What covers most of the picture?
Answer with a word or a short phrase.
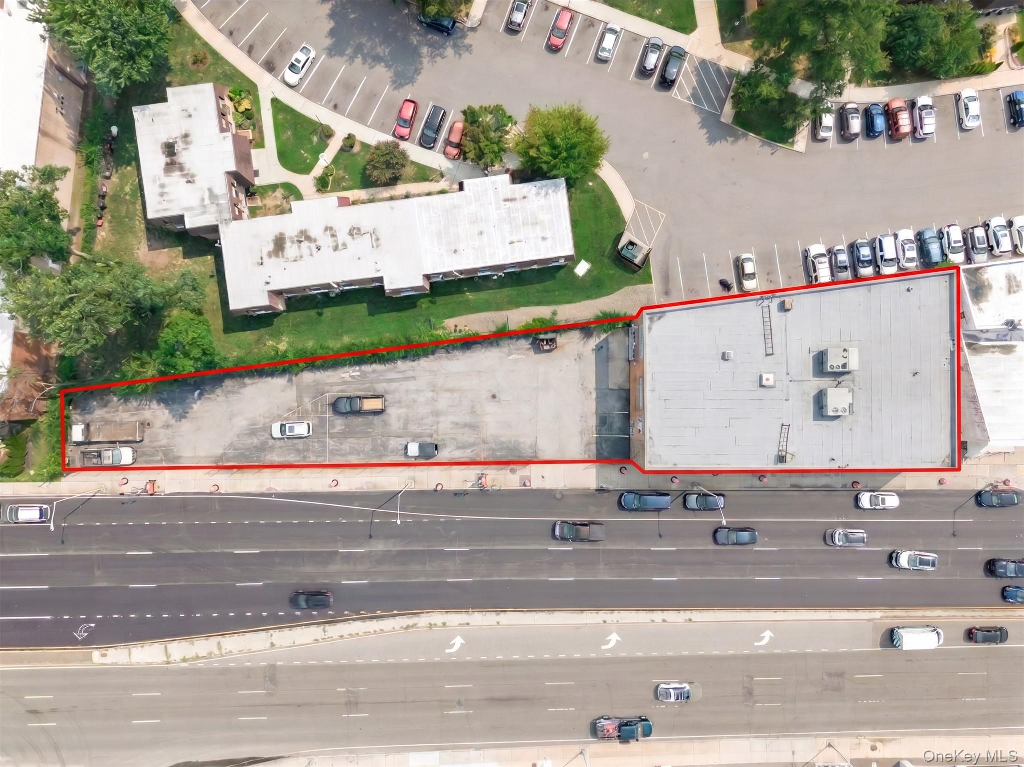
paved ground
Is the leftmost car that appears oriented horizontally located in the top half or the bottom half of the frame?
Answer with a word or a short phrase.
bottom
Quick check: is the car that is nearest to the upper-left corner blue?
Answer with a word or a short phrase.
No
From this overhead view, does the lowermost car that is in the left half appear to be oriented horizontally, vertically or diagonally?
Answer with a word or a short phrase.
horizontally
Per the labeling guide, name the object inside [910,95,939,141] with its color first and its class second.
white car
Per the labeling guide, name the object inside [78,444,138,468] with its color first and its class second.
white truck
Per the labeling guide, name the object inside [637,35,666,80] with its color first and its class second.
gray car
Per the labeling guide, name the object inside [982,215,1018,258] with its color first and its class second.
white car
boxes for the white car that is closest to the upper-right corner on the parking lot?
[955,88,981,132]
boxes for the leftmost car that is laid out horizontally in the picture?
[7,503,53,525]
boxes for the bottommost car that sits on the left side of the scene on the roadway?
[290,588,335,611]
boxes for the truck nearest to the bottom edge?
[593,715,653,741]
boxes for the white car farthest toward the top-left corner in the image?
[285,41,318,88]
